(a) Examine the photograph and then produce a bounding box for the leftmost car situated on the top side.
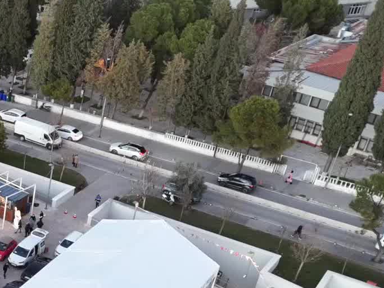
[0,108,26,121]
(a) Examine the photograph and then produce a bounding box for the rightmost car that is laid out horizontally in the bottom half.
[216,170,260,191]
